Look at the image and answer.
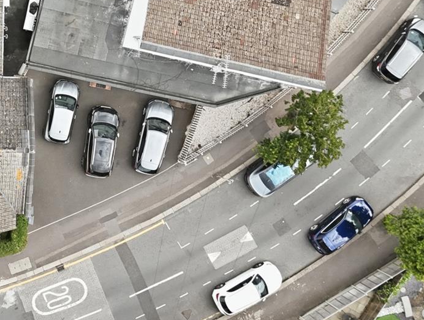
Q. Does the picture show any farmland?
No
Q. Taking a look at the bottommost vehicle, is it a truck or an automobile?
automobile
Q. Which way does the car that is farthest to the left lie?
from top to bottom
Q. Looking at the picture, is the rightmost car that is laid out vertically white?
Yes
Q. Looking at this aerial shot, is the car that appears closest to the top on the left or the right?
right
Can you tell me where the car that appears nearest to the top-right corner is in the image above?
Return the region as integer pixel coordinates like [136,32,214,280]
[371,18,424,85]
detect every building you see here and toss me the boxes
[0,0,37,230]
[24,0,331,108]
